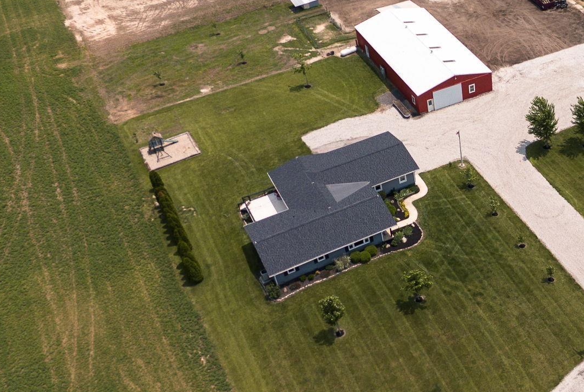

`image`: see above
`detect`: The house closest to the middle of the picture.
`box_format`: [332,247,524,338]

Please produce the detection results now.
[243,132,419,285]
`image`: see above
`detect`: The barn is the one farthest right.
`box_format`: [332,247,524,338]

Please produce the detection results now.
[354,0,494,114]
